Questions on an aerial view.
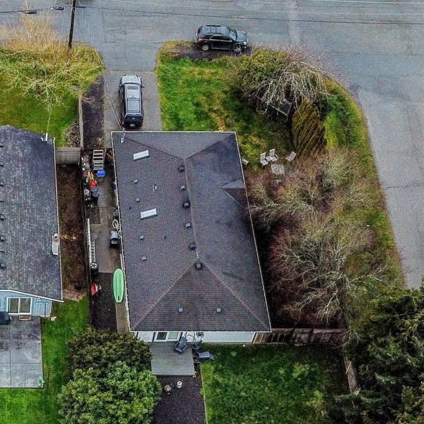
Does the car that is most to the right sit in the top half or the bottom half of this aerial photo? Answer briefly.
top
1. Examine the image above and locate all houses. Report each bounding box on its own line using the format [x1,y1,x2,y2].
[0,128,63,321]
[112,129,271,348]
